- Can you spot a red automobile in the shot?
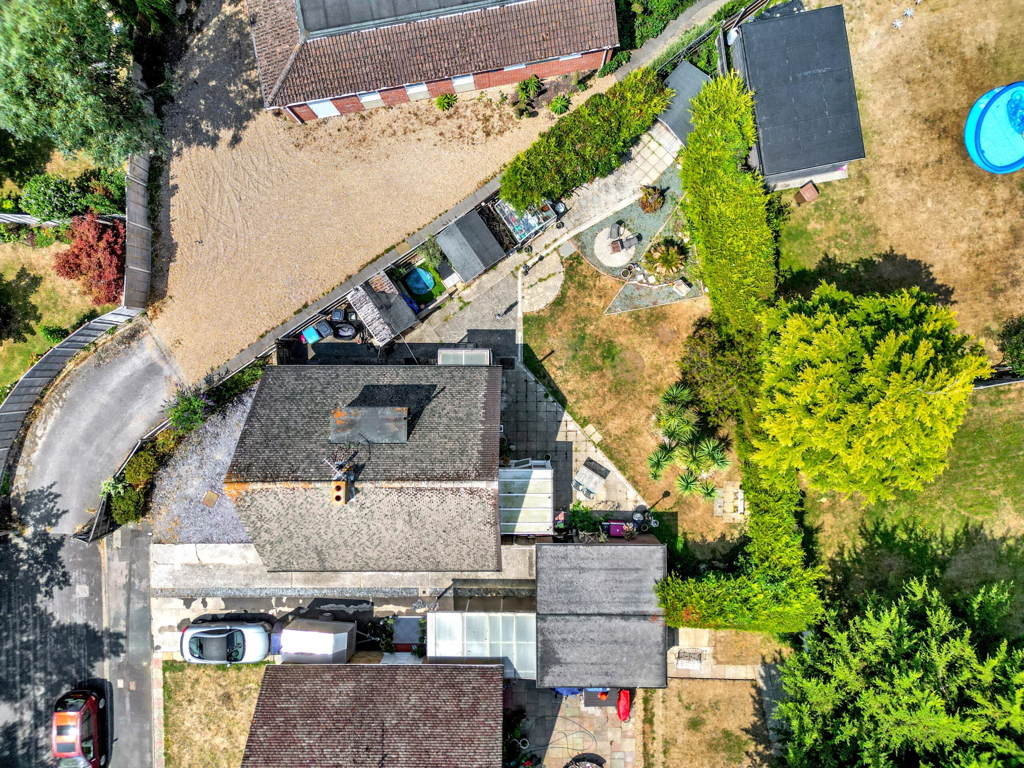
No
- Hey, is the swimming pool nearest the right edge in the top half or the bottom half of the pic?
top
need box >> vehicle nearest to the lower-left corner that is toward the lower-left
[182,617,275,671]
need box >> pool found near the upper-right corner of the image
[965,80,1024,173]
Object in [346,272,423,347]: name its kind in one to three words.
shed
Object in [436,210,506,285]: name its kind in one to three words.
shed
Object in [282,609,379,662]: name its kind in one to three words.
trailer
